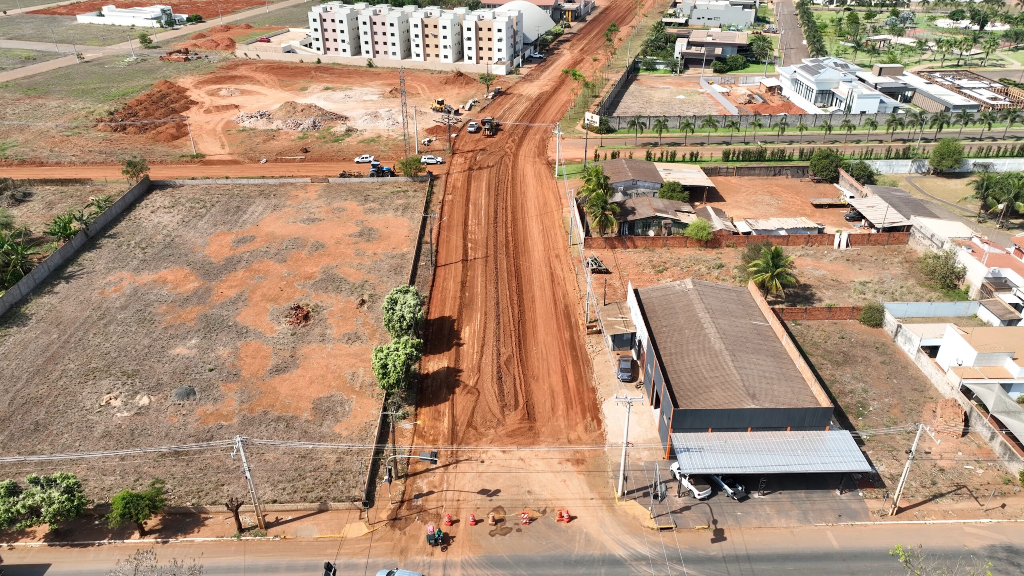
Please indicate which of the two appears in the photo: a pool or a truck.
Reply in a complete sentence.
The one in the frame is a truck.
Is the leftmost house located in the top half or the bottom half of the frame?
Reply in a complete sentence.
The leftmost house is in the top half of the image.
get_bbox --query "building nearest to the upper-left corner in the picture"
[77,5,189,30]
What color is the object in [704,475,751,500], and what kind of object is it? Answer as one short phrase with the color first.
black truck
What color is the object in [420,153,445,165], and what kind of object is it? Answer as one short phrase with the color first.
white vehicle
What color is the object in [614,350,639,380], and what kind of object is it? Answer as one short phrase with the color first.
gray car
